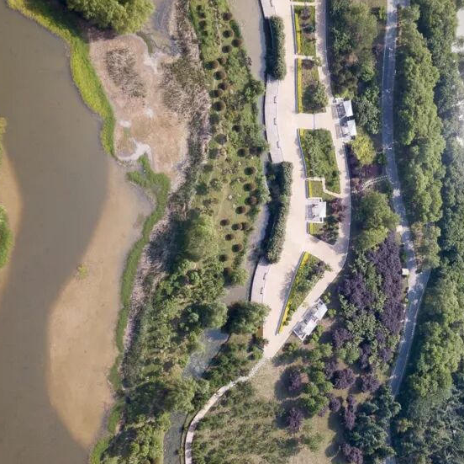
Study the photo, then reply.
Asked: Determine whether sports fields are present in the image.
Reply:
No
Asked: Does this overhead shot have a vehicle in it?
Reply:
No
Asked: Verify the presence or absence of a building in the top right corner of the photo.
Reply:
Yes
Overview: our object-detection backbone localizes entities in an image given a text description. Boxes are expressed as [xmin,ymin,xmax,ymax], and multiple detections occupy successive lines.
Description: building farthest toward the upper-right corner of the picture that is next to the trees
[333,98,356,138]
